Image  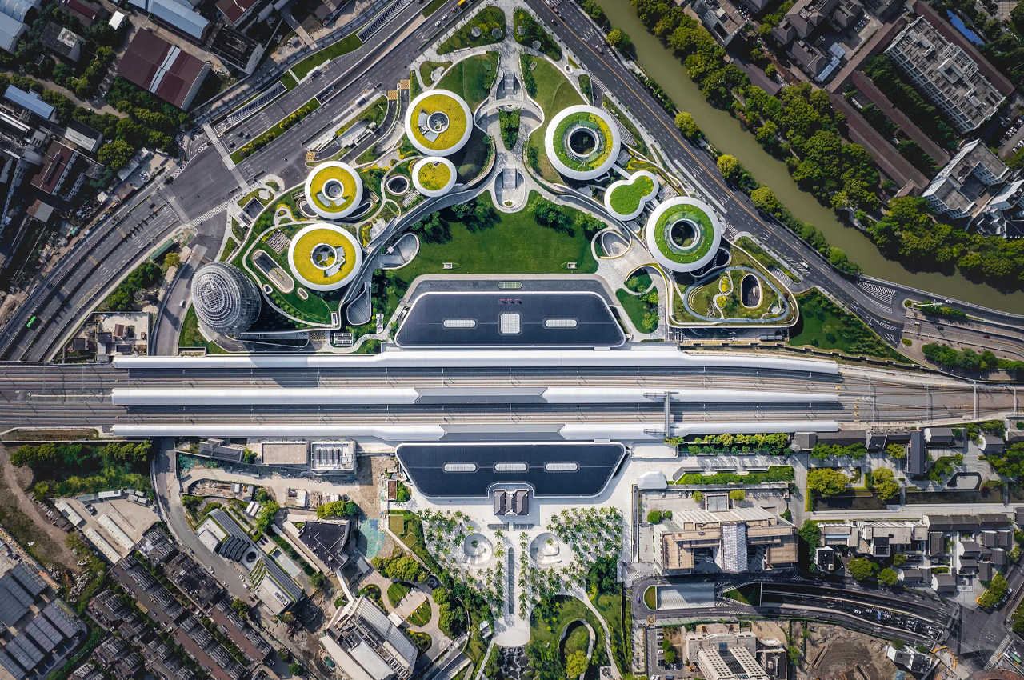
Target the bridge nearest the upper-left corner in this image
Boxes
[474,96,546,126]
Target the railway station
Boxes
[111,350,840,441]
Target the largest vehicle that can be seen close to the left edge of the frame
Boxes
[24,314,40,330]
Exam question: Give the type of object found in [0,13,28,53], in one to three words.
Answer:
shed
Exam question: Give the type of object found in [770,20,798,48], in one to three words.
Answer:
house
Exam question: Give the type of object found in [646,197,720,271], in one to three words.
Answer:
building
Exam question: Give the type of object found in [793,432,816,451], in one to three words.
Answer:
building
